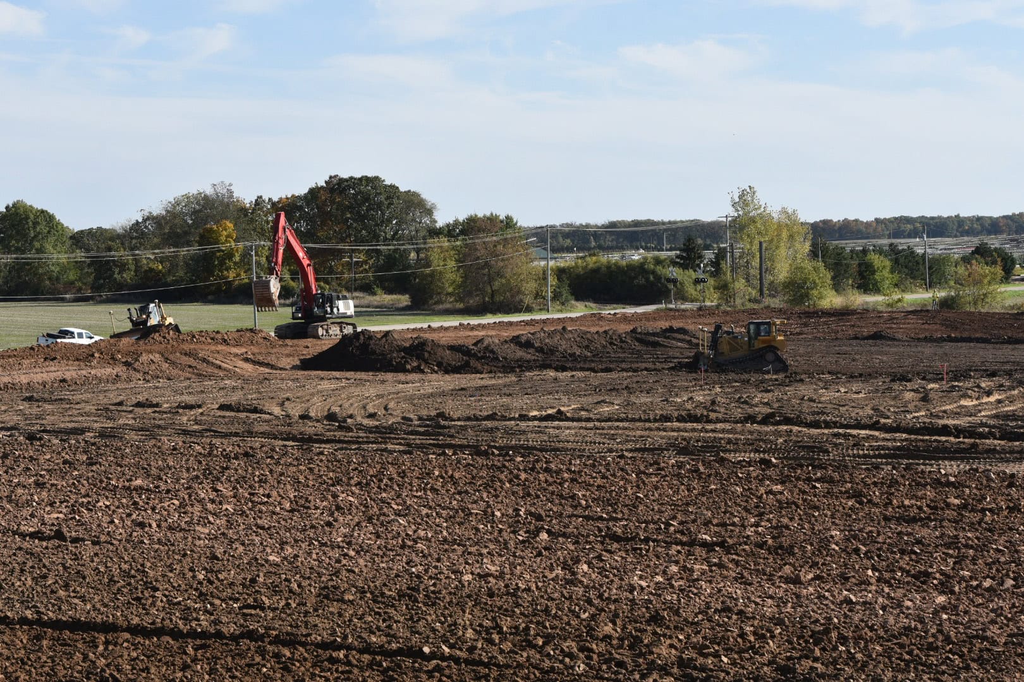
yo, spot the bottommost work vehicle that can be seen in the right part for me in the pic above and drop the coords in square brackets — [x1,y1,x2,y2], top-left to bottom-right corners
[694,320,792,371]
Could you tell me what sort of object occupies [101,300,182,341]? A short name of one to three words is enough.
work vehicle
